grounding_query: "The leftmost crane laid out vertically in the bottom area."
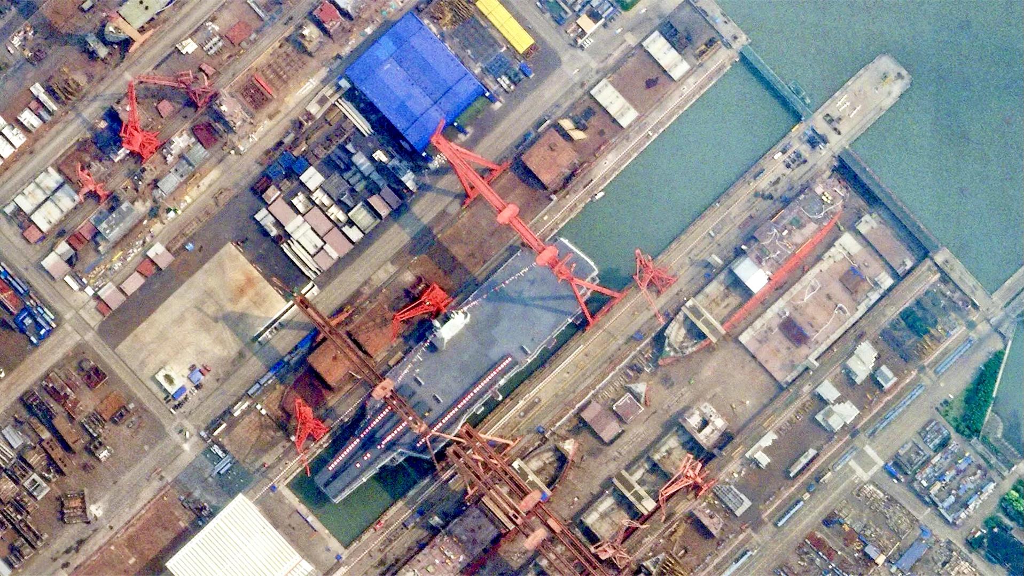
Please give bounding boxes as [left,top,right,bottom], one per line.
[296,399,330,484]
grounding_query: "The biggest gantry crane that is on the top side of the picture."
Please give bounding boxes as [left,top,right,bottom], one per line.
[430,120,630,333]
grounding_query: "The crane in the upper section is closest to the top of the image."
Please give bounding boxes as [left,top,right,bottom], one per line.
[105,11,161,53]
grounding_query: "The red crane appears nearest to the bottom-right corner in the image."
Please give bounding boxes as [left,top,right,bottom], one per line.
[658,455,716,529]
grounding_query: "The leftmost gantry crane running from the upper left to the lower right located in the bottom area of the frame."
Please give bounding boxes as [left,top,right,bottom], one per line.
[274,279,484,480]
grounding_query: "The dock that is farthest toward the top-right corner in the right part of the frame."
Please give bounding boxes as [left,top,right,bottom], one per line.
[801,54,911,157]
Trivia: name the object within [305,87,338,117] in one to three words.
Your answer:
shed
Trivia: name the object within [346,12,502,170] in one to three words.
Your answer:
warehouse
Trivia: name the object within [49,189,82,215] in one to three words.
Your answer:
shed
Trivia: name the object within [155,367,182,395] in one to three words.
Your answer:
building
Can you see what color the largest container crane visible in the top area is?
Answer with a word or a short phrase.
red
